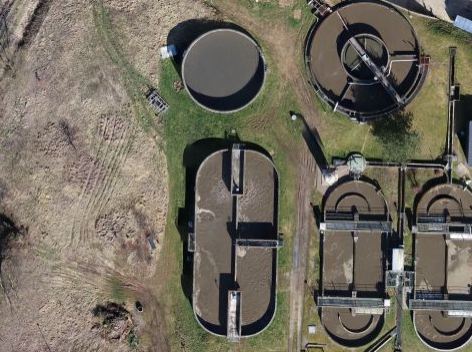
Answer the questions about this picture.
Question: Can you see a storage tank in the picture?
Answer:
Yes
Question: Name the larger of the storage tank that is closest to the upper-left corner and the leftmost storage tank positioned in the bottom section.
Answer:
the leftmost storage tank positioned in the bottom section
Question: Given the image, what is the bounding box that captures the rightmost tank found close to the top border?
[306,0,426,119]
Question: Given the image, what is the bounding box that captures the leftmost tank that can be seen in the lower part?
[188,144,284,343]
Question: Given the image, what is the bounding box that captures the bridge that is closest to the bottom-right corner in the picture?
[413,294,472,319]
